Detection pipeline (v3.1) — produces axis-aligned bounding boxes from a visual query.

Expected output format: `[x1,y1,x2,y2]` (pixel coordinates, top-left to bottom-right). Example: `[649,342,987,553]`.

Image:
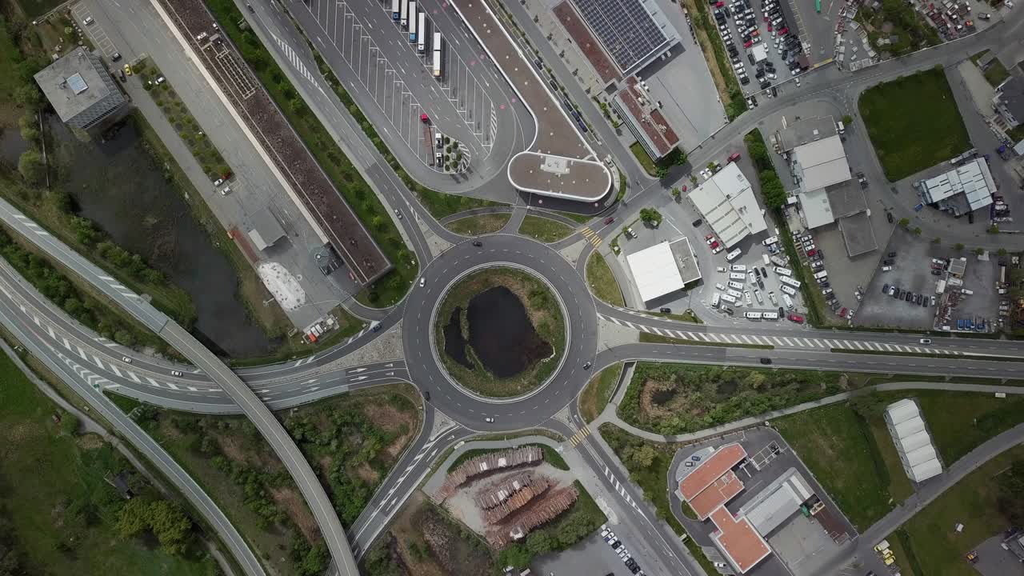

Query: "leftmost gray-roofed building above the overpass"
[34,47,127,128]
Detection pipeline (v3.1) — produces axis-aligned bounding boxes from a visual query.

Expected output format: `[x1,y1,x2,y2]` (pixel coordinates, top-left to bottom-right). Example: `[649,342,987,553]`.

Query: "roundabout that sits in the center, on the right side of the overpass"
[402,234,598,430]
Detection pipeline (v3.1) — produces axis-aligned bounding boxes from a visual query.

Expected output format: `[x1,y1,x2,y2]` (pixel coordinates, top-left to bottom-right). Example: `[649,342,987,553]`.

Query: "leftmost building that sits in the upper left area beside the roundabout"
[150,0,395,282]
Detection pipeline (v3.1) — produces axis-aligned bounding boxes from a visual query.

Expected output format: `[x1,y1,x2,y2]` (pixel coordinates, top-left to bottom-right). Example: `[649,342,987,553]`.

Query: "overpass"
[0,197,360,576]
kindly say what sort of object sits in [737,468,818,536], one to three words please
building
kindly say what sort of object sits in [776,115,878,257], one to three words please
building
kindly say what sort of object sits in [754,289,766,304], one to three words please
vehicle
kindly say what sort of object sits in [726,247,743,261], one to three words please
camper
